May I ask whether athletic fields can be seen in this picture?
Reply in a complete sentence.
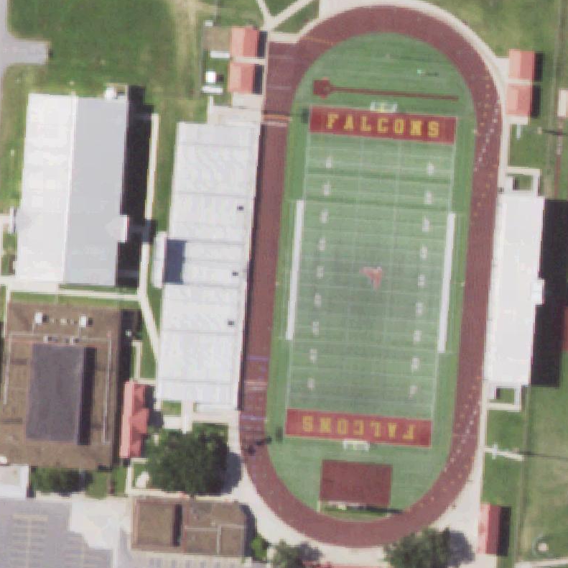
Yes, the image includes an athletic field.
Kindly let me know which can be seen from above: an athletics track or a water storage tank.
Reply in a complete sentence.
Looking from above, you can make out an athletics track.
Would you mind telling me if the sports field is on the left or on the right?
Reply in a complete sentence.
It is on the right.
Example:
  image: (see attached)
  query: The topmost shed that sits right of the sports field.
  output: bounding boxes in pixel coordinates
[509,49,537,80]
